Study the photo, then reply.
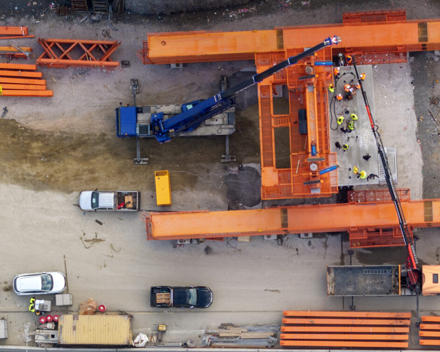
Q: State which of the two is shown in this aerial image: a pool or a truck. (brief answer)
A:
truck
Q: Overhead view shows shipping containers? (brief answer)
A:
Yes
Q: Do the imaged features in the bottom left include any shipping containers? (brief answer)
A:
Yes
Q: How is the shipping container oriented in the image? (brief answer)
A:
horizontally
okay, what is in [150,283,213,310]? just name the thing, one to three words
truck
